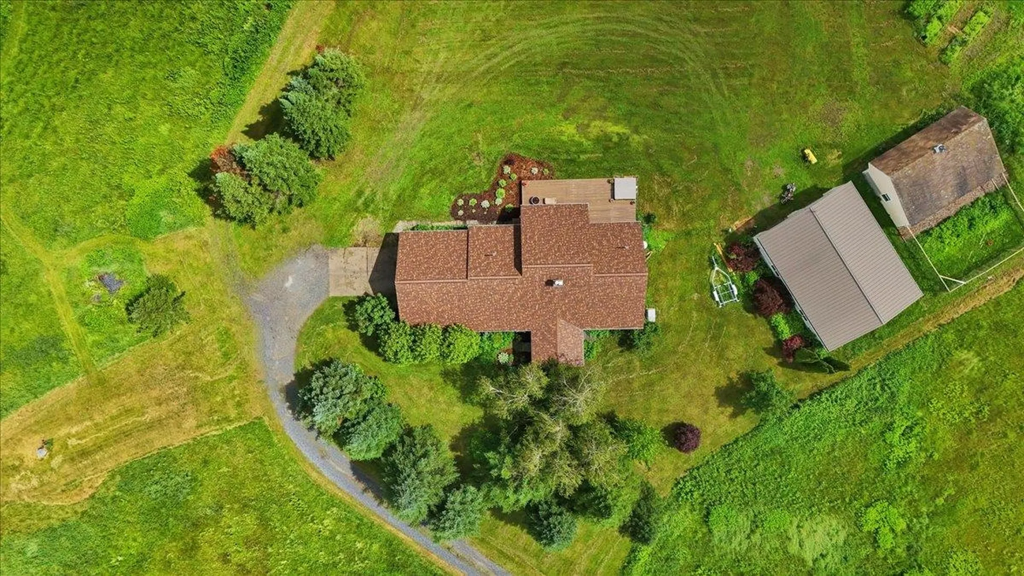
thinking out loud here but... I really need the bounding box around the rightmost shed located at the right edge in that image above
[862,108,1005,227]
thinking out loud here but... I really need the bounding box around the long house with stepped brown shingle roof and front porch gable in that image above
[393,203,648,366]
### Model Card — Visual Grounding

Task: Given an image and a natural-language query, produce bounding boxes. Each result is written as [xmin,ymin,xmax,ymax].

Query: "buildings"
[753,179,923,353]
[393,203,648,366]
[862,108,1005,227]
